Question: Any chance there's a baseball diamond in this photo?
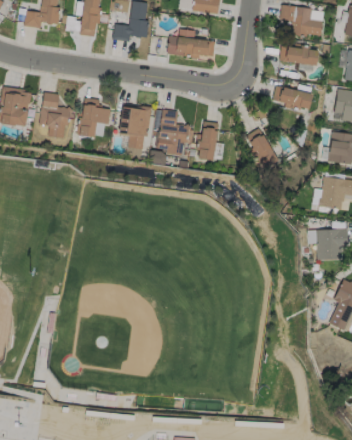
Yes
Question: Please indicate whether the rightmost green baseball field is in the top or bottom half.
bottom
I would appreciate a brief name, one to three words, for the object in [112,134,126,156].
swimming pool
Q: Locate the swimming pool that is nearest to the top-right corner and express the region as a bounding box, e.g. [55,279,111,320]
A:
[308,65,326,80]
